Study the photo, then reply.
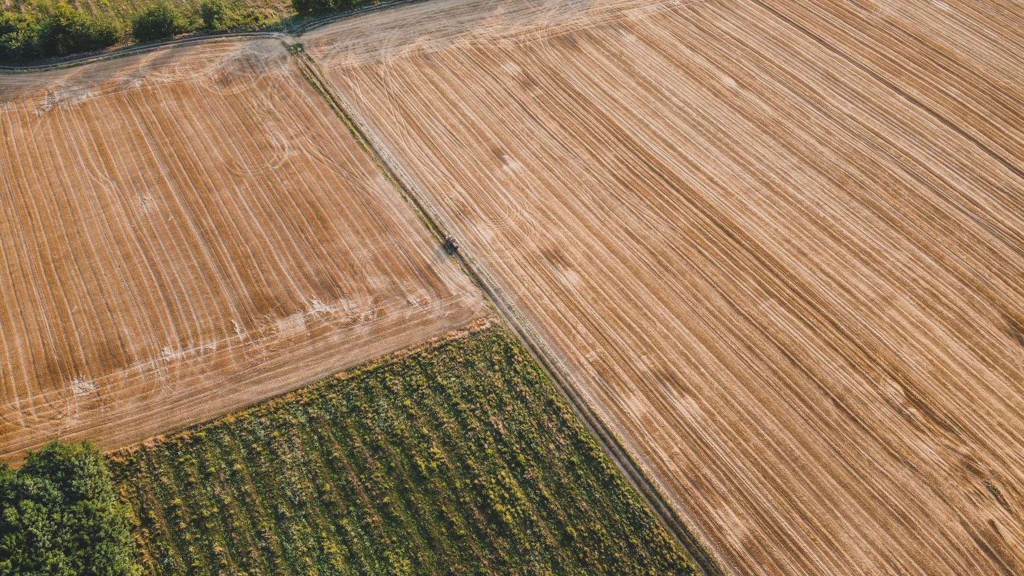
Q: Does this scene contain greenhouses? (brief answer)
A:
No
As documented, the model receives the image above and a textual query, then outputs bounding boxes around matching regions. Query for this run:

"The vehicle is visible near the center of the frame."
[443,235,457,251]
